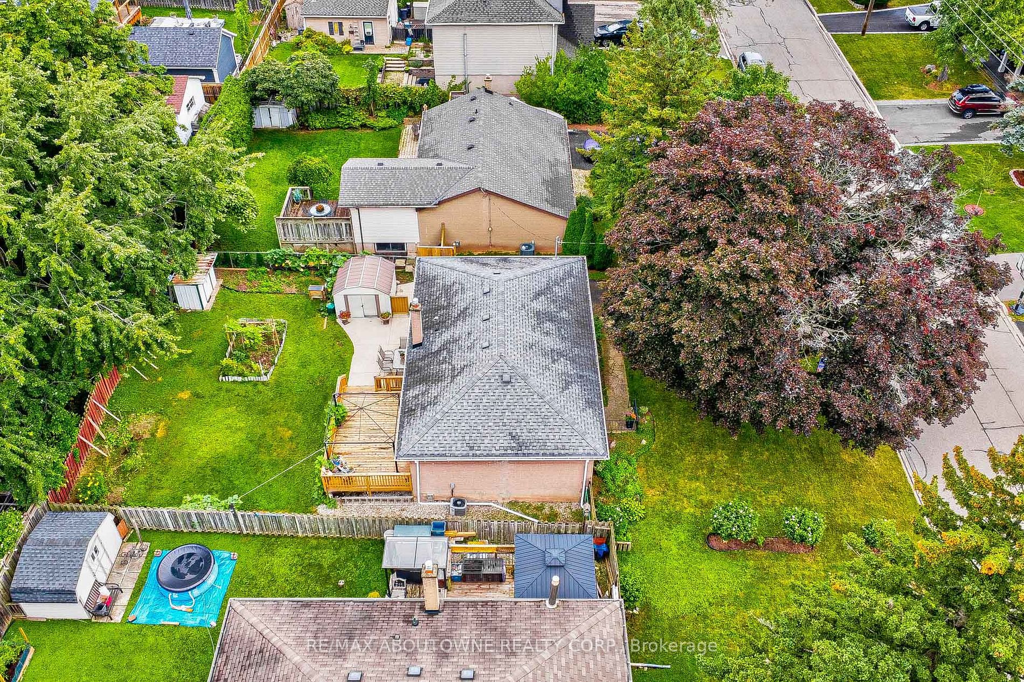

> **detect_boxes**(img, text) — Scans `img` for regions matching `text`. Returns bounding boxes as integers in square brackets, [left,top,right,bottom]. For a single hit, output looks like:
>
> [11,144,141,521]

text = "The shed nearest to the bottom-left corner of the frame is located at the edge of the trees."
[4,514,119,617]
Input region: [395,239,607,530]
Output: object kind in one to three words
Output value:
house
